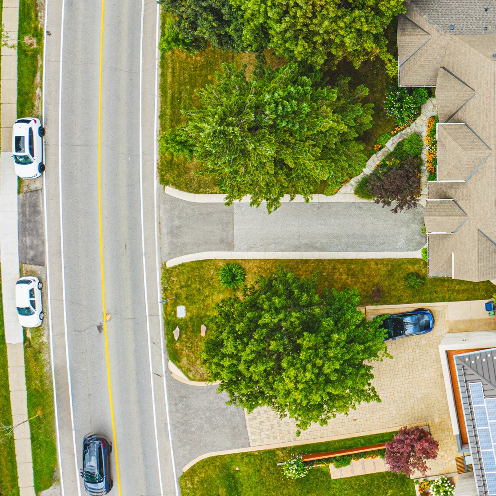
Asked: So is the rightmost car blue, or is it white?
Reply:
blue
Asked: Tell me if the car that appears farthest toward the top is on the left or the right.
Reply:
left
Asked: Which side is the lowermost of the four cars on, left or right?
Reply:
left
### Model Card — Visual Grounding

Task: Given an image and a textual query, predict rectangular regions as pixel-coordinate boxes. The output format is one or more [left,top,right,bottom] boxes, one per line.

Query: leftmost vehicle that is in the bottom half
[15,276,49,328]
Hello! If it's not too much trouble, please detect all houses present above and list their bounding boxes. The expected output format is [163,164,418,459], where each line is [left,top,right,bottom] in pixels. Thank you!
[438,330,496,496]
[397,0,496,282]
